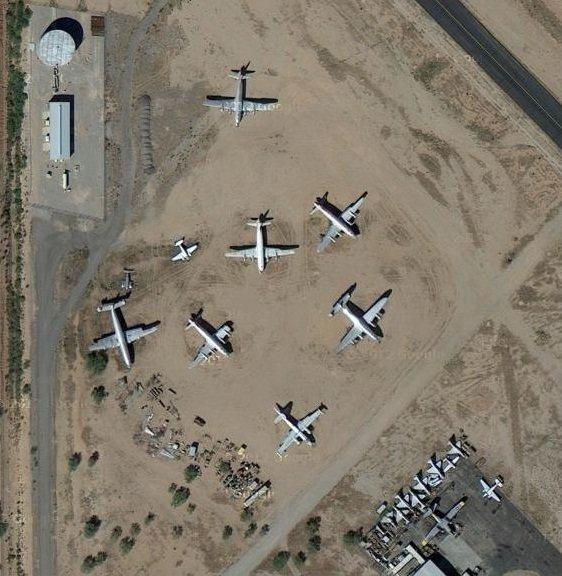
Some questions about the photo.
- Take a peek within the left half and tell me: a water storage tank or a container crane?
water storage tank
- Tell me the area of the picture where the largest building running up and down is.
top left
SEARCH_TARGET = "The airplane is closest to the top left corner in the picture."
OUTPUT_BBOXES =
[200,72,278,126]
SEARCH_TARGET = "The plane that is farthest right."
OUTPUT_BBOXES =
[480,479,503,502]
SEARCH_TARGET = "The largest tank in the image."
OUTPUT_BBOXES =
[37,29,74,67]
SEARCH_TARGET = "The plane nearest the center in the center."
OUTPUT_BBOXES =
[226,219,296,273]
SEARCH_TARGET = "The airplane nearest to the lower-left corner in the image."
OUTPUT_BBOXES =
[86,299,156,367]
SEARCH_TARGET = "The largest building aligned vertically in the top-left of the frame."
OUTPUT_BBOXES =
[48,102,69,159]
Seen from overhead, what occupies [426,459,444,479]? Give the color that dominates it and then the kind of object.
white airplane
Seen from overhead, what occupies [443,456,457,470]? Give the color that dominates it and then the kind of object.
white airplane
